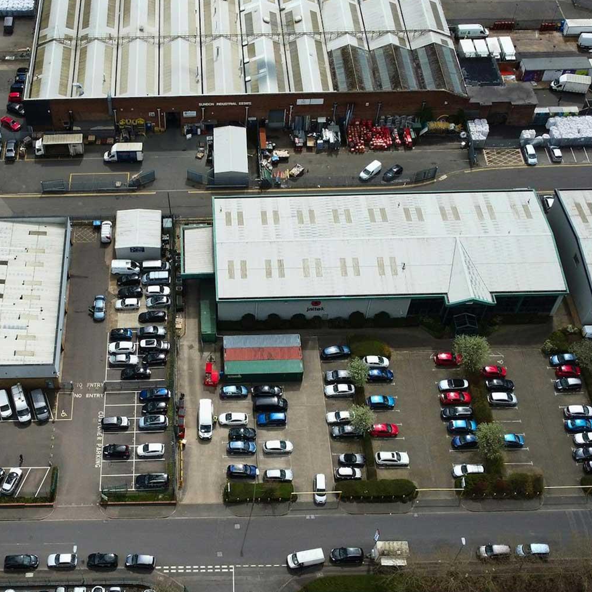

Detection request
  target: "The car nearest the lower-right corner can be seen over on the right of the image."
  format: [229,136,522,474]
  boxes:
[517,541,548,558]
